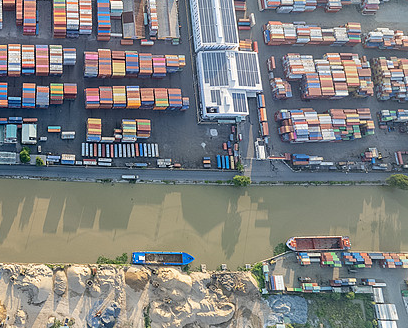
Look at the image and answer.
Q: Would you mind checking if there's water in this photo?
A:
Yes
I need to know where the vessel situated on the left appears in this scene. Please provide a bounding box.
[130,250,194,265]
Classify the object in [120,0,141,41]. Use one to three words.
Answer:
building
